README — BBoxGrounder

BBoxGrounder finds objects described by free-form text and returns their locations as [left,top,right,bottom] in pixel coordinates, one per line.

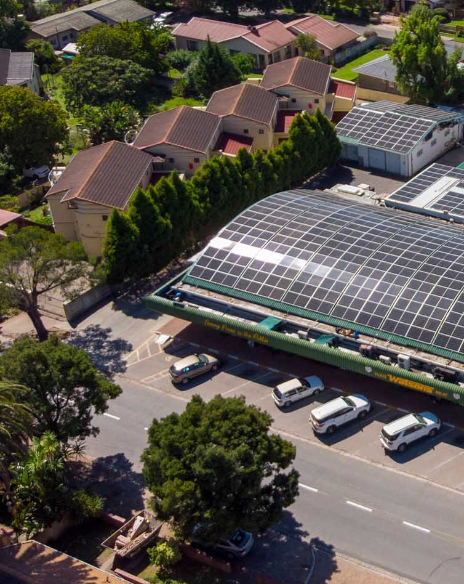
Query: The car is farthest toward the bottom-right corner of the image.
[376,409,446,451]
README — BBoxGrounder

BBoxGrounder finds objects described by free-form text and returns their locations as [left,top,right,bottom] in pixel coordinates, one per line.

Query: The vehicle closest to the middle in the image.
[160,347,224,381]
